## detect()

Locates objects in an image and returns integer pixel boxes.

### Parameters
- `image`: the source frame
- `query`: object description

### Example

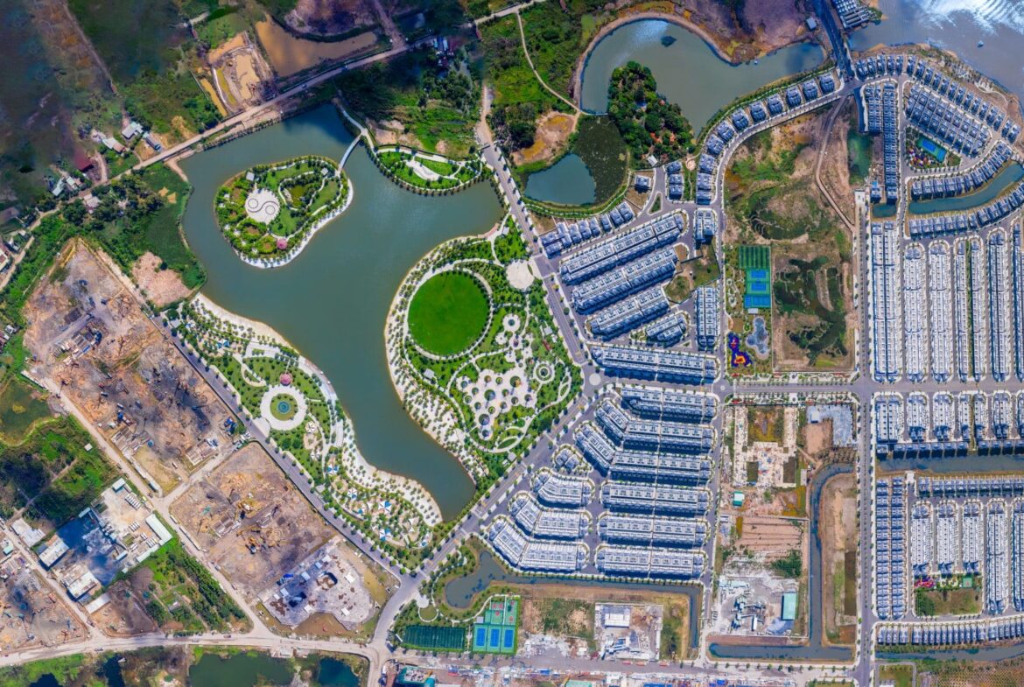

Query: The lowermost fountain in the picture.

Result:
[270,395,297,421]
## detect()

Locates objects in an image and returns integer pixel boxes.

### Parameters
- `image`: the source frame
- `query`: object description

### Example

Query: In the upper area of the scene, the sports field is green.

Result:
[740,247,771,268]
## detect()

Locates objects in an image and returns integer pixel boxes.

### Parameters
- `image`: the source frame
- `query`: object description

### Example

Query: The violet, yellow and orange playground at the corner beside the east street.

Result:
[728,332,751,367]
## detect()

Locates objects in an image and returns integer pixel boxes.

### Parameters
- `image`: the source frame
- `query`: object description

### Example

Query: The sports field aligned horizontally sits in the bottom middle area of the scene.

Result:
[402,625,465,649]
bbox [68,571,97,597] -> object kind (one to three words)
building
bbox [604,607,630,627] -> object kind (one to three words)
building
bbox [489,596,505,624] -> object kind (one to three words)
basketball court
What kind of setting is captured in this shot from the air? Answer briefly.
residential area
